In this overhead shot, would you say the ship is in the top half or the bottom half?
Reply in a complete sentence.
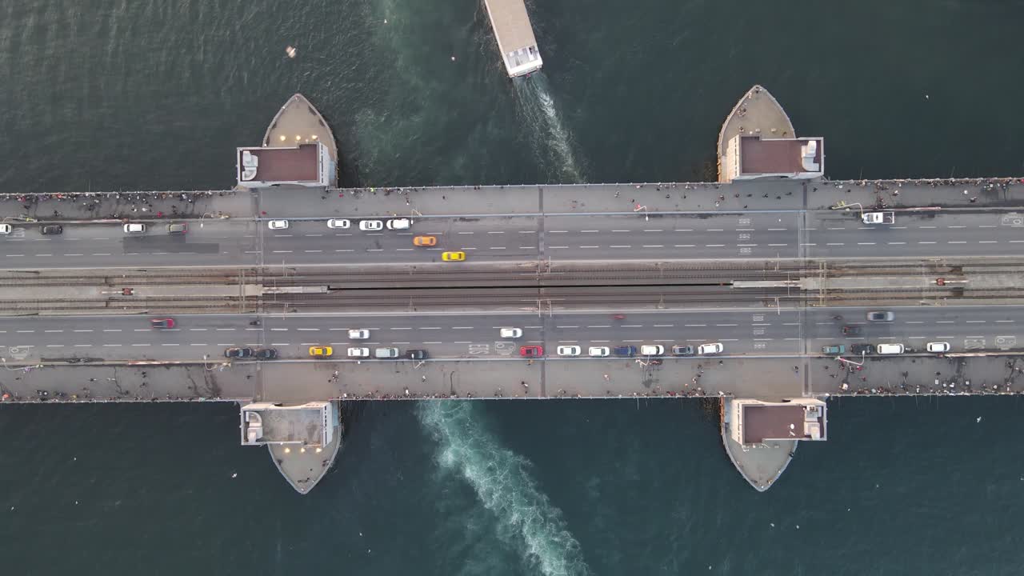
The top half of the photo is where the ship is.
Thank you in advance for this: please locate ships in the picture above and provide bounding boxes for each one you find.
[482,0,540,79]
